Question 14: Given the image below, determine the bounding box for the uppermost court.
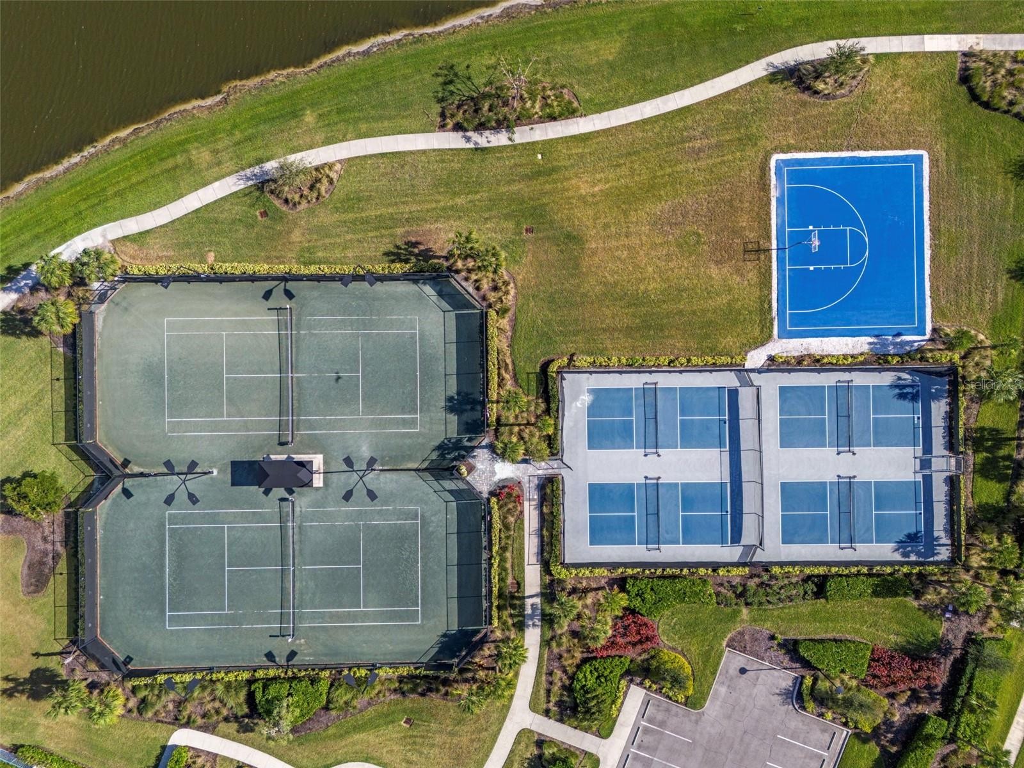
[776,154,926,338]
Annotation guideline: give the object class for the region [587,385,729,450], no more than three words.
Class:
sports court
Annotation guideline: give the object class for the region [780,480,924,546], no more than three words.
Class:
sports court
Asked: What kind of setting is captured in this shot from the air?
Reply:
sports ground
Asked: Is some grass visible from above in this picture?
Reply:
Yes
